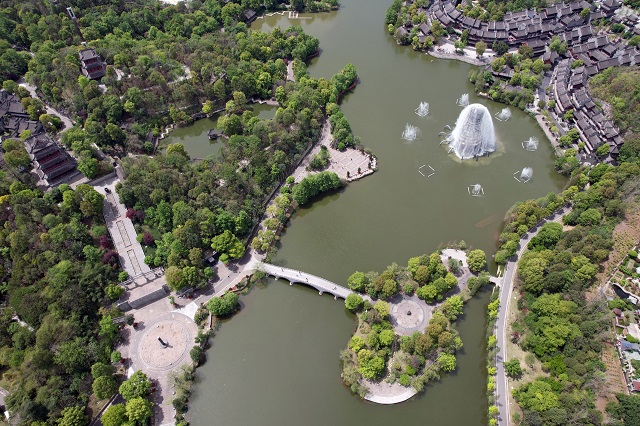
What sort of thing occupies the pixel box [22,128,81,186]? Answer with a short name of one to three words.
building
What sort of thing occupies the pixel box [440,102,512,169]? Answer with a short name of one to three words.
fountain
